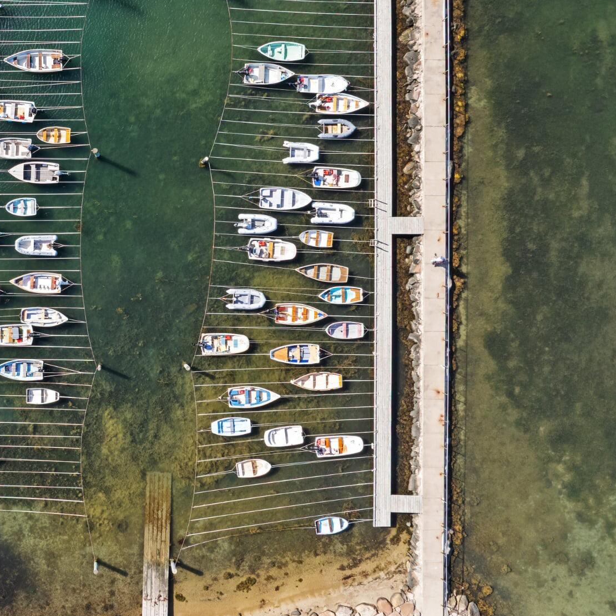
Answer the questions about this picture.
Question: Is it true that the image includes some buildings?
No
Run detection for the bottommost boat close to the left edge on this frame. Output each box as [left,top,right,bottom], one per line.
[27,388,60,404]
